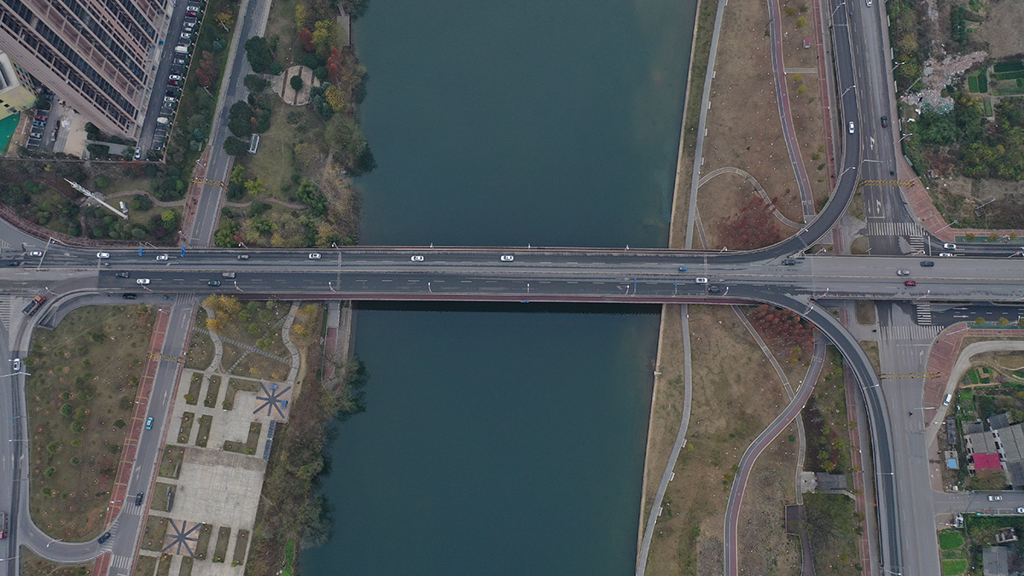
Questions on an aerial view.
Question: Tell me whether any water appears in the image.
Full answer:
Yes, the picture does contain water.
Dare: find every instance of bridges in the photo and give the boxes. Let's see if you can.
[0,219,1024,308]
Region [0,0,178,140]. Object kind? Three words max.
building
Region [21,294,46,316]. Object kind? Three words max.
truck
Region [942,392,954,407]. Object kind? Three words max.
vehicle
